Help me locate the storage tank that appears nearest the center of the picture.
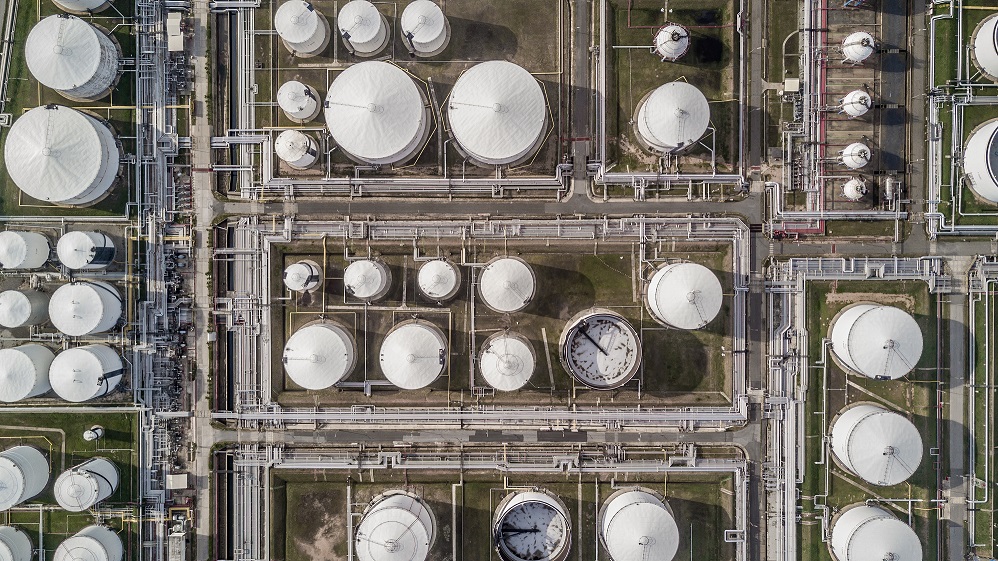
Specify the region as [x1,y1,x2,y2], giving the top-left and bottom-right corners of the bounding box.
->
[462,246,537,315]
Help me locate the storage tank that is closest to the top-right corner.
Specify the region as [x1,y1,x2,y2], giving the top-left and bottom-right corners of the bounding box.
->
[967,12,998,85]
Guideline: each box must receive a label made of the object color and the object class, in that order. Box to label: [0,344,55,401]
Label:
white storage tank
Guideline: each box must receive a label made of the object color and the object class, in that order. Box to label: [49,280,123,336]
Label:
white storage tank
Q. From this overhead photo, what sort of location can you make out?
industrial area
